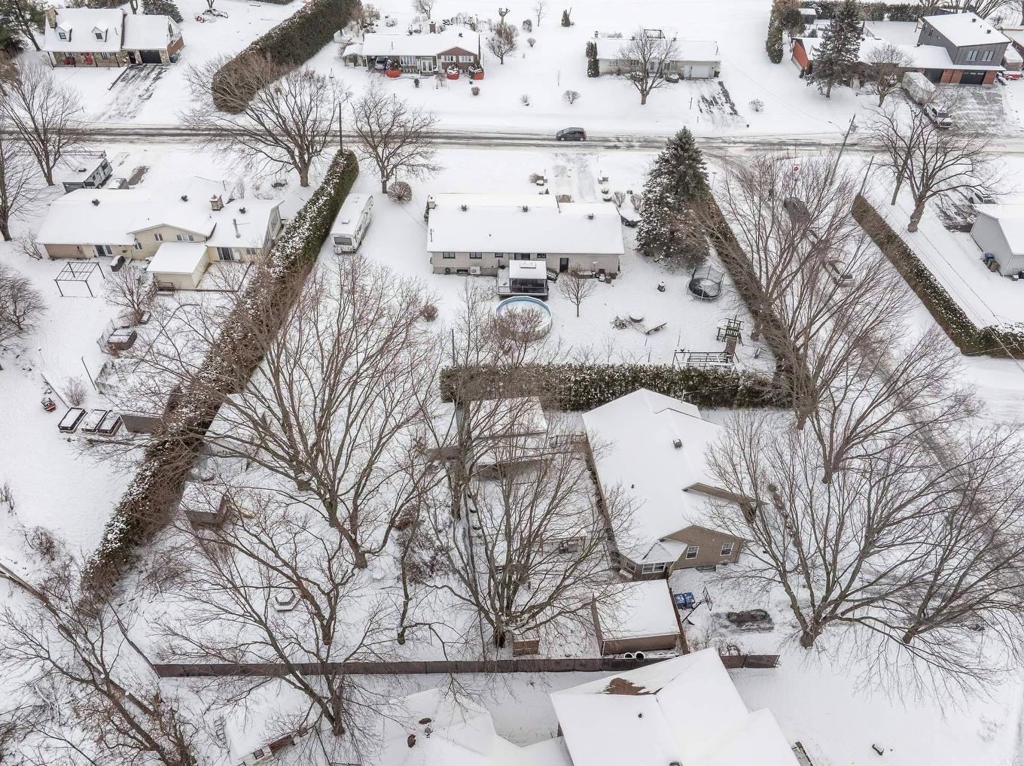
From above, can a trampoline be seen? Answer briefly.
Yes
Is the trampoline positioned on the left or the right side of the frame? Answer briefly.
right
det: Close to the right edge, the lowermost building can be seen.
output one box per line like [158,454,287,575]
[953,198,1024,276]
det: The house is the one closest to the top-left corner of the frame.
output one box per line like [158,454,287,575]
[38,5,191,68]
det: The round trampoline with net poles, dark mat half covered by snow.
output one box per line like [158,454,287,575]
[685,263,729,308]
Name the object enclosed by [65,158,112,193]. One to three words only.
trailer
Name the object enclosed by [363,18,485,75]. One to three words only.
house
